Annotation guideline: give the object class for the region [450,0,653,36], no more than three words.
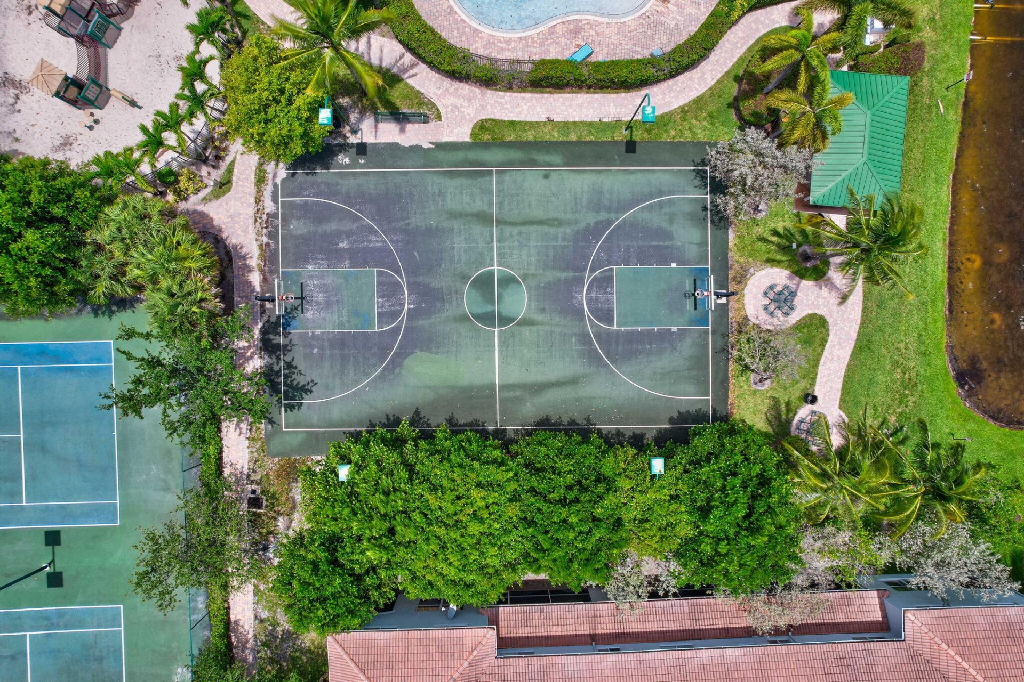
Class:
swimming pool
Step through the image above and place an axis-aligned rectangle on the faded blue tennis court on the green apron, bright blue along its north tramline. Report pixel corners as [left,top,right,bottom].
[0,341,118,530]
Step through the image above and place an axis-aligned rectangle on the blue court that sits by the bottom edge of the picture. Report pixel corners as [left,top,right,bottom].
[0,605,125,682]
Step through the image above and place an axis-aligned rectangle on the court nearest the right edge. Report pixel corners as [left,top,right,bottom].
[262,141,729,457]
